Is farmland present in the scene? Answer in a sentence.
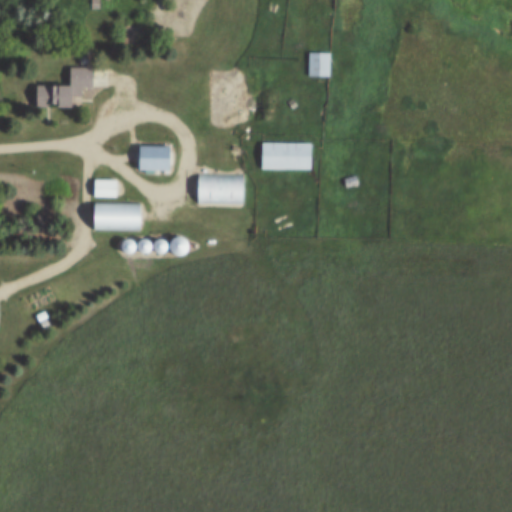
Yes, the picture does contain farmland.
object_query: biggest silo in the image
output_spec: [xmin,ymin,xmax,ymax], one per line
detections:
[170,236,190,256]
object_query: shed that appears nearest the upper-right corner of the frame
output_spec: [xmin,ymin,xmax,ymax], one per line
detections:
[309,52,332,78]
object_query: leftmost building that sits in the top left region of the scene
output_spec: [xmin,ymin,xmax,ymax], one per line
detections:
[36,67,93,108]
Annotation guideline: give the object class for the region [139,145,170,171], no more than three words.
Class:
shed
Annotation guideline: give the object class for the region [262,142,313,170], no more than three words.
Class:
shed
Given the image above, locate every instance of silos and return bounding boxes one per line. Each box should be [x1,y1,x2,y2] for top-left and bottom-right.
[170,236,190,256]
[122,238,137,254]
[154,238,170,254]
[138,238,154,254]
